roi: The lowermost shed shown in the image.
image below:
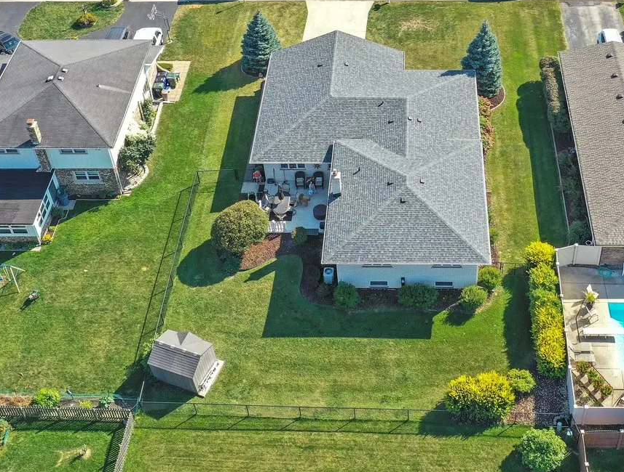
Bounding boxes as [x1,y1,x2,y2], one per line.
[151,332,222,394]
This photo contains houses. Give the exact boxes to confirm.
[246,33,493,295]
[557,40,624,265]
[0,39,155,248]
